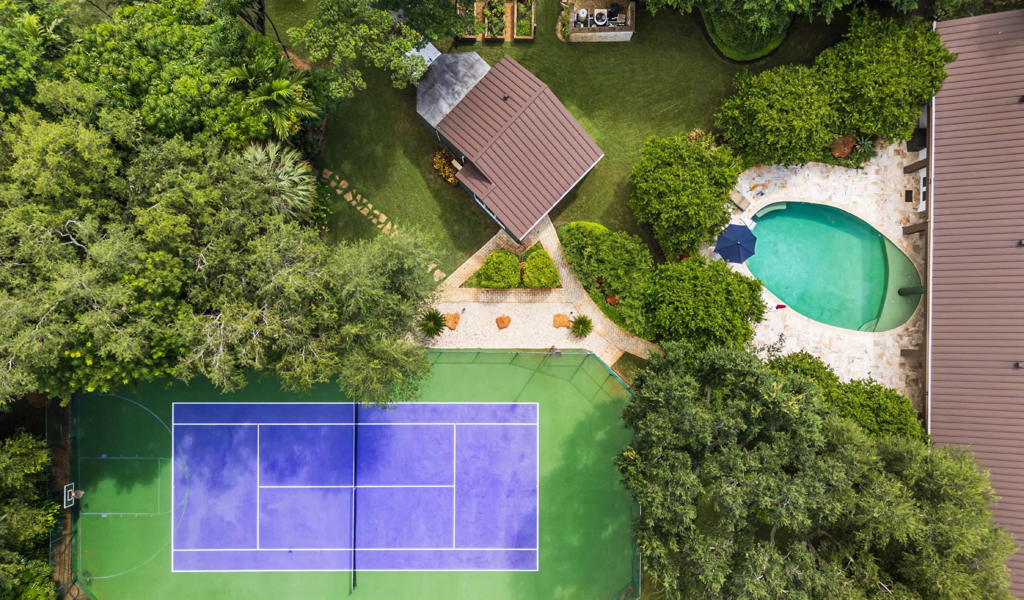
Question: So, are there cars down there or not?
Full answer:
No, there isn't any car down there.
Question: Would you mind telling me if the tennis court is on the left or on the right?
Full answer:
It is on the left.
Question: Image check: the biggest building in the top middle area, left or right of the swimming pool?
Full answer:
The biggest building in the top middle area can be seen on the left of the swimming pool.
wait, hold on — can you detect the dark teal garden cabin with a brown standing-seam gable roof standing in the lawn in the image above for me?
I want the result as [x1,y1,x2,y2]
[417,51,604,244]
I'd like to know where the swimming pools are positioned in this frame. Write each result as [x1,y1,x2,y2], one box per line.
[746,195,925,338]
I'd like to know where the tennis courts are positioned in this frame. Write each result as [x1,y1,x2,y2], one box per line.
[71,348,634,600]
